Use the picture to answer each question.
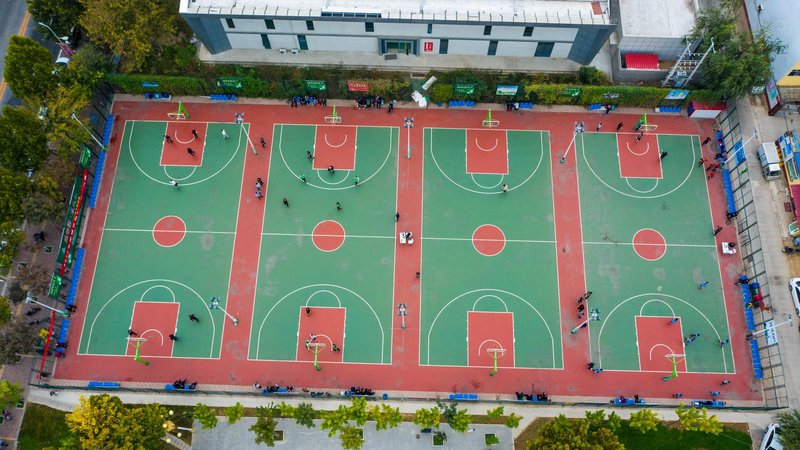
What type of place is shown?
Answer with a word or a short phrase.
sports ground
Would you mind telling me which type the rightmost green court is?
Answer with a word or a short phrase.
basketball court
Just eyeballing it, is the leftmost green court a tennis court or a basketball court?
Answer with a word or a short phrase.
basketball court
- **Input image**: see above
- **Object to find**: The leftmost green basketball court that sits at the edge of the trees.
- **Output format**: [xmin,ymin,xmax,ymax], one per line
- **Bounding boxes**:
[77,120,251,359]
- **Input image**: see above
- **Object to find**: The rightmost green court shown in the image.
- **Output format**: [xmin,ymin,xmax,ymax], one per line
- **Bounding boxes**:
[573,131,737,374]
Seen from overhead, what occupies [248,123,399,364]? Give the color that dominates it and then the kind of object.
green basketball court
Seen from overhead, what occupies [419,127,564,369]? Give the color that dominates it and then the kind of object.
green basketball court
